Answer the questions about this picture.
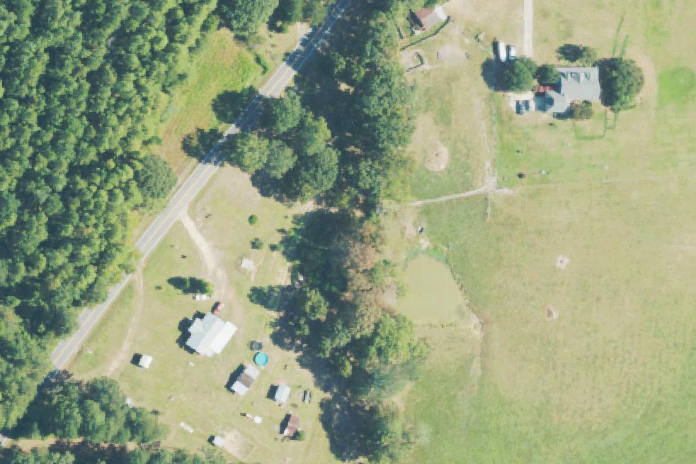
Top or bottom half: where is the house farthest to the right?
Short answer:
top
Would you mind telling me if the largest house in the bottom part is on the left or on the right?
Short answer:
left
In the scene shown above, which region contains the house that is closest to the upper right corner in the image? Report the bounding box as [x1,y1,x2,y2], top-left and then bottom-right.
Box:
[539,65,602,114]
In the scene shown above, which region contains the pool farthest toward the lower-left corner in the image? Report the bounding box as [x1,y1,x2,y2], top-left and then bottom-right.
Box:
[254,352,269,367]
